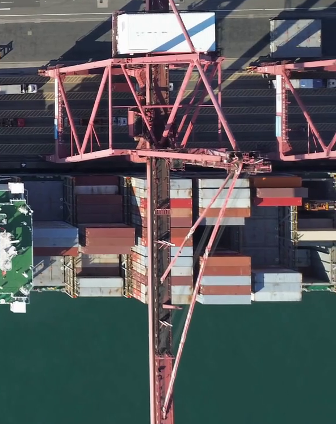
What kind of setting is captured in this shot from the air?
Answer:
port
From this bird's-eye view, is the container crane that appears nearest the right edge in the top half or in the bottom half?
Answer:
top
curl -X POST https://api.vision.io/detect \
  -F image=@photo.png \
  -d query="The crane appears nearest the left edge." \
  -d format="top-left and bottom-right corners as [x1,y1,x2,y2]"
[36,0,266,424]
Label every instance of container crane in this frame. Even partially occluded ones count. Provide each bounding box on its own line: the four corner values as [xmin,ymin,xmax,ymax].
[251,65,336,162]
[36,0,266,424]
